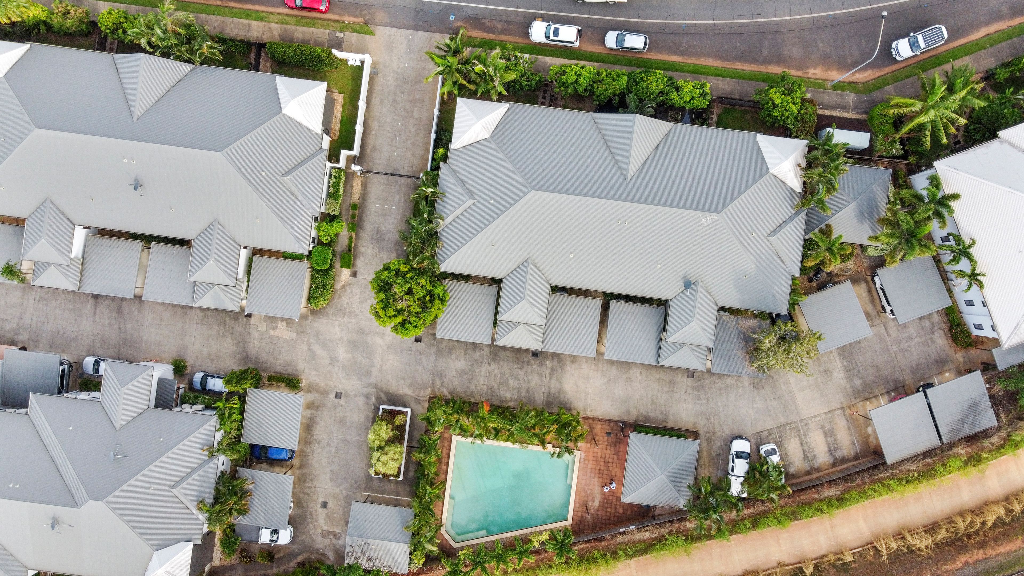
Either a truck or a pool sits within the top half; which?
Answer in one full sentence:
You can see a truck within the top half.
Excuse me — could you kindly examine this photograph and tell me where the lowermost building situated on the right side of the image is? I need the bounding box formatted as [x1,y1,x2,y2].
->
[620,431,701,511]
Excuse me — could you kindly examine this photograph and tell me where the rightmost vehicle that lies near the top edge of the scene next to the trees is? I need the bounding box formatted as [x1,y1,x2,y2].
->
[887,22,950,63]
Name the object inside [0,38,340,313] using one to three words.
building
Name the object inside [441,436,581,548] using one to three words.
swimming pool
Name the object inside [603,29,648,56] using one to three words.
car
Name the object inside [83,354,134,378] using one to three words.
car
